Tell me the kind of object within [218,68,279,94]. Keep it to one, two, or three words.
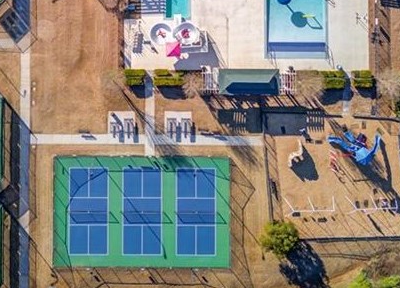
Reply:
building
